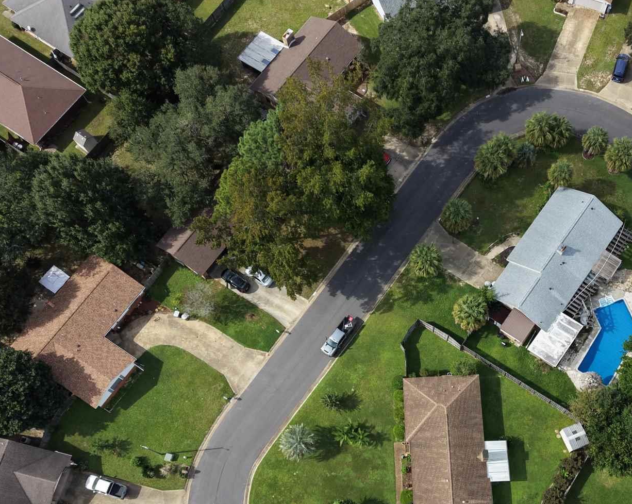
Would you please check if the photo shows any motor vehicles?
Yes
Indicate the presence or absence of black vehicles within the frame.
Yes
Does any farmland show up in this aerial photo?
No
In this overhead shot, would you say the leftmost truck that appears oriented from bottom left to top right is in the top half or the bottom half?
bottom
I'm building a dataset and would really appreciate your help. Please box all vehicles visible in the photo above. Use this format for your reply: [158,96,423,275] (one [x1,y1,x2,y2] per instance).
[220,267,252,295]
[321,312,360,357]
[242,264,275,290]
[84,474,131,499]
[611,57,631,85]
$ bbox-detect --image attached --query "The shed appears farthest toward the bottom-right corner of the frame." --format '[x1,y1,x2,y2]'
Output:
[559,423,590,452]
